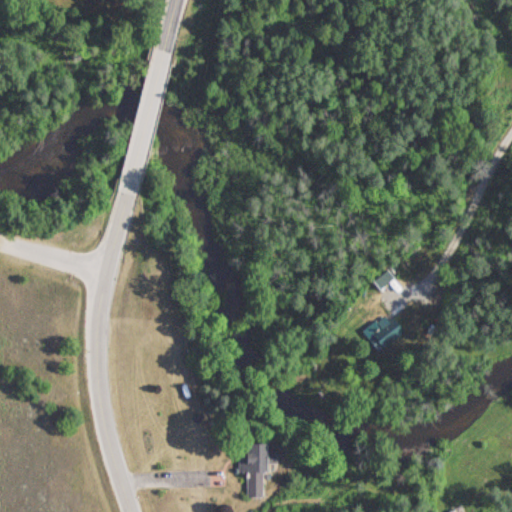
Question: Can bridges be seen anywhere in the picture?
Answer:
Yes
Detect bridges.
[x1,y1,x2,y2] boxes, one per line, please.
[118,48,174,196]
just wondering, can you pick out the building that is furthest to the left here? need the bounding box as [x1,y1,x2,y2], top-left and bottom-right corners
[238,444,279,498]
